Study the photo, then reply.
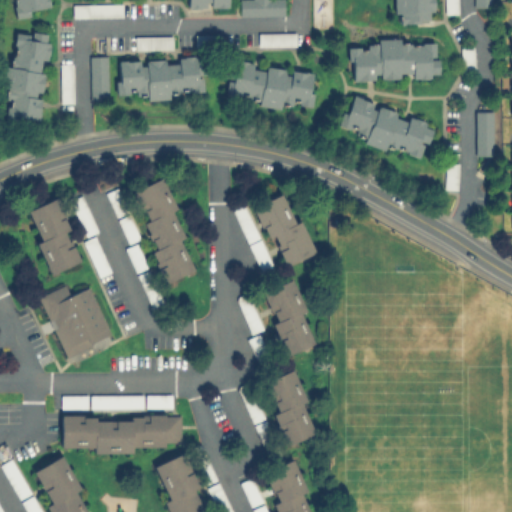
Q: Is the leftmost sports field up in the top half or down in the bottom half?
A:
bottom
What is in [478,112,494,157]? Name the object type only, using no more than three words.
building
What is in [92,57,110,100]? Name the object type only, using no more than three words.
building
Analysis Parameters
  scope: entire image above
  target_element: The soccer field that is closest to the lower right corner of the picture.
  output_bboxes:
[468,366,512,512]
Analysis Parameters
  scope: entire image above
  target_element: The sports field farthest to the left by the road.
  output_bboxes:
[346,271,464,512]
